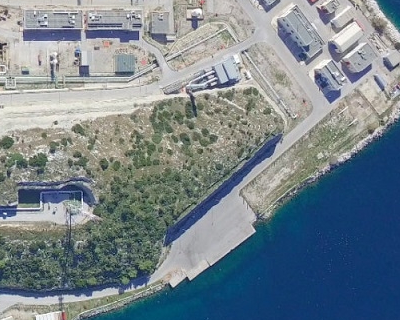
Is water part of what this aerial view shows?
Yes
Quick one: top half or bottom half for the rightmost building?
top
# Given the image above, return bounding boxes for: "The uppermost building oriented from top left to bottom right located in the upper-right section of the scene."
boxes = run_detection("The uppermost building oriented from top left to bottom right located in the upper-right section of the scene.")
[273,6,325,54]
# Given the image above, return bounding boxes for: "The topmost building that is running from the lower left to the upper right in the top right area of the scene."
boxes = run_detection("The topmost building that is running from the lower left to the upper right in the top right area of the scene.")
[327,7,356,31]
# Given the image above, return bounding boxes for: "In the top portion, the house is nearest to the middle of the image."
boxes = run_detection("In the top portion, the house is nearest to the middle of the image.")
[188,57,242,96]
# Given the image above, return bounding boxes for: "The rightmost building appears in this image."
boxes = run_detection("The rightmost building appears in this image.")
[379,47,400,70]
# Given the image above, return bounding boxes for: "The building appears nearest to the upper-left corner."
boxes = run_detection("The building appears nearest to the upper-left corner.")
[22,11,83,31]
